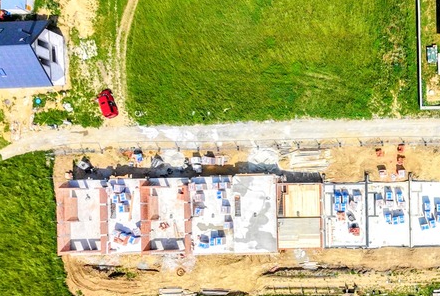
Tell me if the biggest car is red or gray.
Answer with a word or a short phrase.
red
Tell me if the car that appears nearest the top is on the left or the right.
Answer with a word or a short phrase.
left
